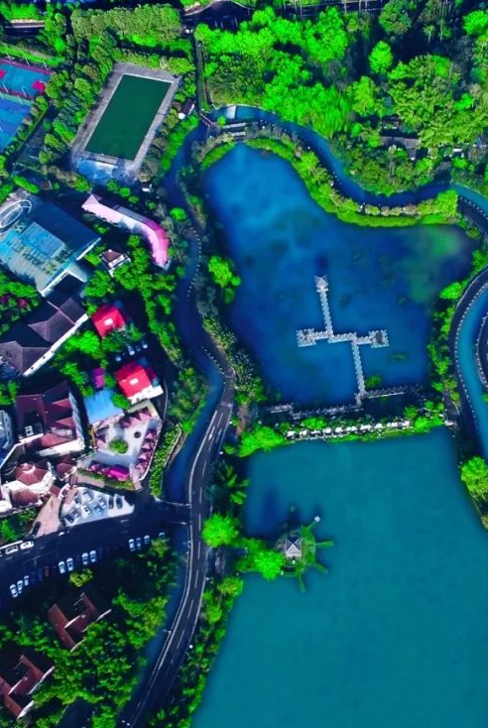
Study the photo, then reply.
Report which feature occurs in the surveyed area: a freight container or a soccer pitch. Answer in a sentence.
I can see a soccer pitch in this picture.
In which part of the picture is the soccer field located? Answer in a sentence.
The soccer field is in the top left part of the image.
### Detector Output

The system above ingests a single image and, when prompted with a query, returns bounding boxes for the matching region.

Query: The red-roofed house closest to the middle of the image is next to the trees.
[114,362,163,409]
